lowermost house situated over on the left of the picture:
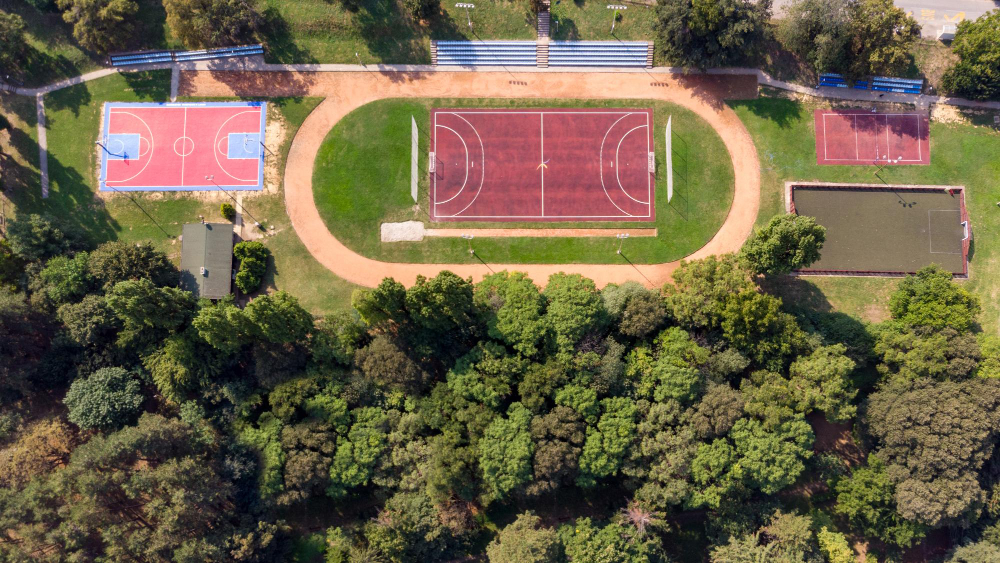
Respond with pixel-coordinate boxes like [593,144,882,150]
[181,219,234,302]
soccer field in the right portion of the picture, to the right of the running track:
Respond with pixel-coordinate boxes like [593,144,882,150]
[785,182,973,279]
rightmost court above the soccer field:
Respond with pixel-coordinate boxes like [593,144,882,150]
[814,109,930,165]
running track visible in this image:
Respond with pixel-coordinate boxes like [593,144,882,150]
[178,70,760,286]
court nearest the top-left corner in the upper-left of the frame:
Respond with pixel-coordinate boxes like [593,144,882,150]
[100,101,266,191]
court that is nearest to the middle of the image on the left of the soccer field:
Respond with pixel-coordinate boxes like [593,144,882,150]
[431,108,655,221]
